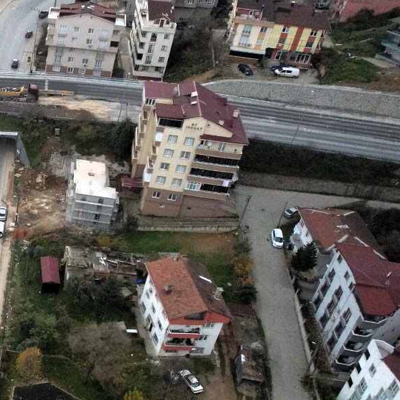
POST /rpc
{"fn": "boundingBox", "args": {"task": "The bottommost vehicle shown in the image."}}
[181,370,204,396]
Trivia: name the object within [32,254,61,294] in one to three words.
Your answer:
shed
